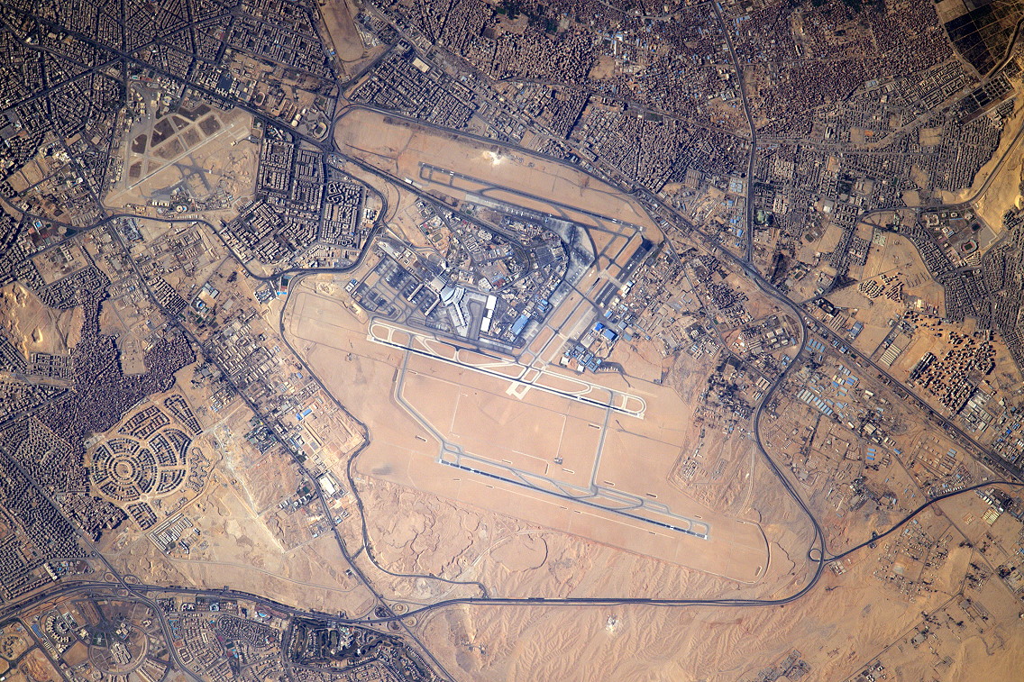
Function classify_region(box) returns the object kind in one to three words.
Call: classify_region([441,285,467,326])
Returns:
building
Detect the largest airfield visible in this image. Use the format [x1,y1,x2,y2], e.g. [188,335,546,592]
[352,161,758,568]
